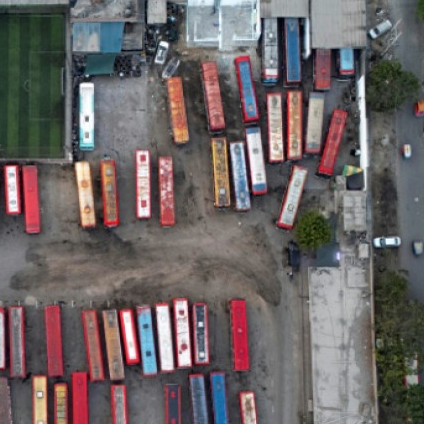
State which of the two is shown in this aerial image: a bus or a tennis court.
bus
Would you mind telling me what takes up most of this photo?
paved ground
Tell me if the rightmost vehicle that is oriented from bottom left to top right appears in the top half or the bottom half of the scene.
top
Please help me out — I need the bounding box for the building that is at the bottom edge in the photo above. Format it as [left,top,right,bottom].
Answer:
[303,267,377,424]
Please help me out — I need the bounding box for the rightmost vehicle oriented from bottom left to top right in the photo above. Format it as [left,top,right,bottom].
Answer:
[366,19,392,41]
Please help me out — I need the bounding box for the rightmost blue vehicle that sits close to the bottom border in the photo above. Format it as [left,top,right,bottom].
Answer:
[208,372,228,424]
